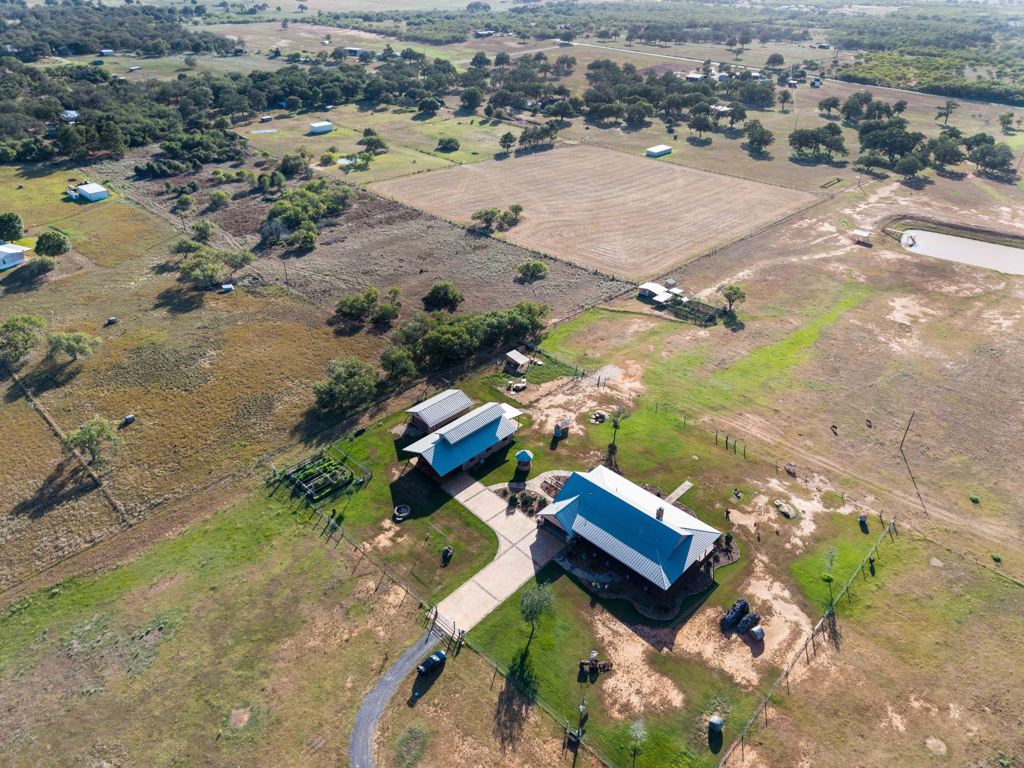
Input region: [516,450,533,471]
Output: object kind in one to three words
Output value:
gazebo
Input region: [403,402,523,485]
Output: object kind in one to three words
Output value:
building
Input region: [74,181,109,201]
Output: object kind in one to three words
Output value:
building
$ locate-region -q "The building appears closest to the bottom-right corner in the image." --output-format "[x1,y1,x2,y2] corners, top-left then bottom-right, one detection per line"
[535,464,722,600]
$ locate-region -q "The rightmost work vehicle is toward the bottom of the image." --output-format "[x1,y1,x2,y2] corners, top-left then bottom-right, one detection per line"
[586,659,610,676]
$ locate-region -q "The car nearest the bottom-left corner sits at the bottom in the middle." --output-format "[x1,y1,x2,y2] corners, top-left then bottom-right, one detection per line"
[413,651,447,678]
